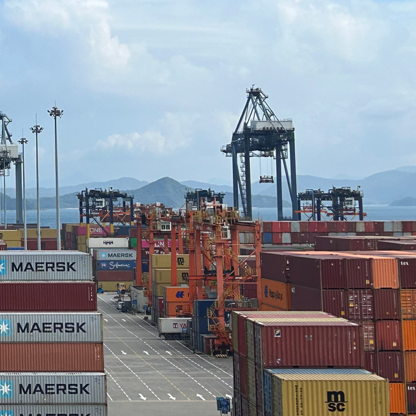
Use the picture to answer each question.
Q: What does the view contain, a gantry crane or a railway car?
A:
gantry crane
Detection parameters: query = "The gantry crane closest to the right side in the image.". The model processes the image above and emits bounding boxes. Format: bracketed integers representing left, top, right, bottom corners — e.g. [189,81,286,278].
[315,183,370,222]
